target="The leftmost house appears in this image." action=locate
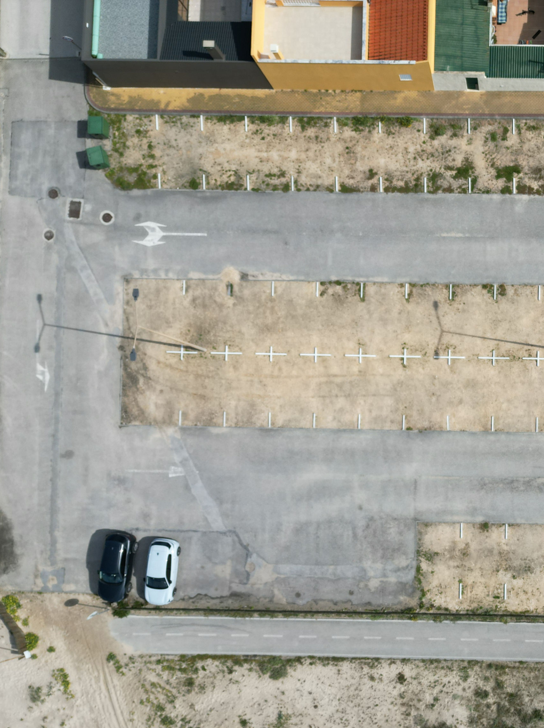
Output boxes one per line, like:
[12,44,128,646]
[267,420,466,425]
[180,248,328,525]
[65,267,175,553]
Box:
[82,0,273,90]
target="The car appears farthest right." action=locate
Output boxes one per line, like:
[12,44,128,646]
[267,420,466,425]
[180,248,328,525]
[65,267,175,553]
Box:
[143,537,184,604]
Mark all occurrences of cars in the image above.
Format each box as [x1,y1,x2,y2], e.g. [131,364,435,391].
[96,531,139,602]
[143,537,184,604]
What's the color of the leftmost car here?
black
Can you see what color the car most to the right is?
white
